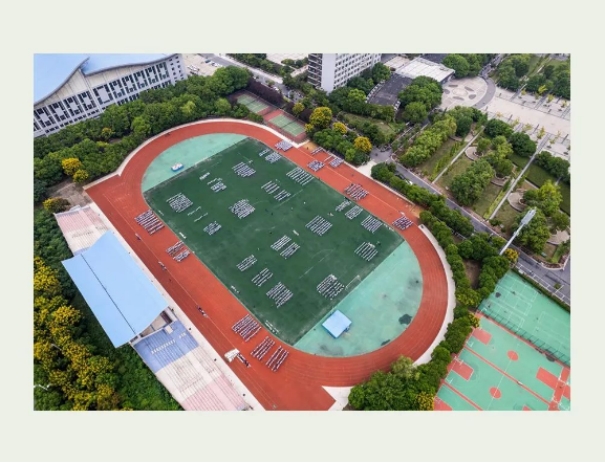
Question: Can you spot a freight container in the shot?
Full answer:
No, the scene contains no freight container.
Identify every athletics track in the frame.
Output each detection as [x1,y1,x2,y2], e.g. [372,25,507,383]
[84,123,451,450]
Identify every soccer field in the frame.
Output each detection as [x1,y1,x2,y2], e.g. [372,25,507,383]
[143,137,404,346]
